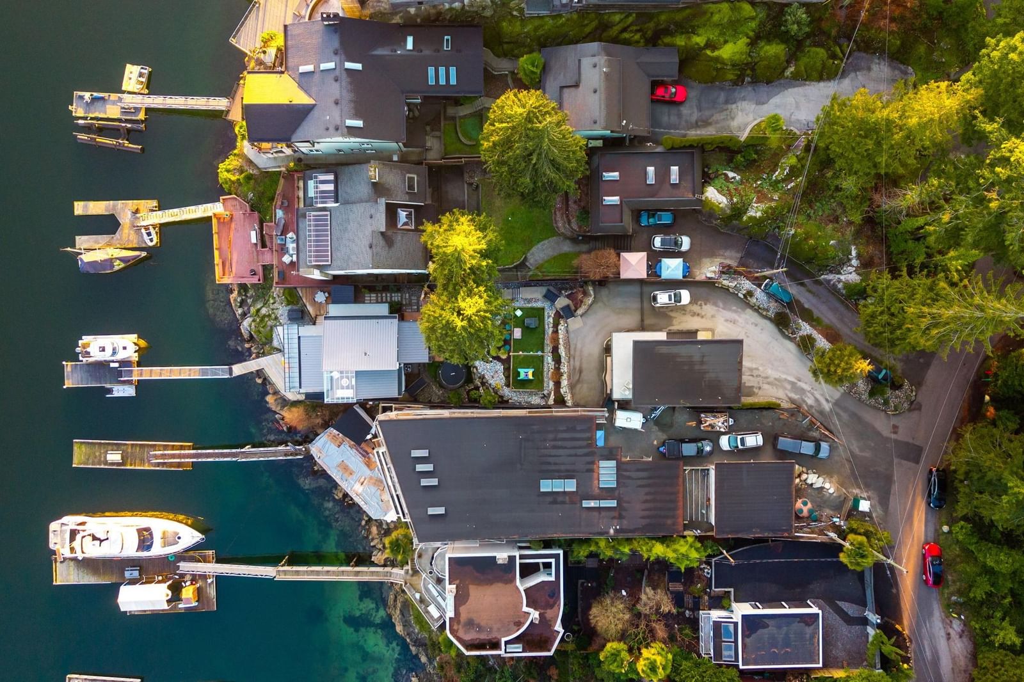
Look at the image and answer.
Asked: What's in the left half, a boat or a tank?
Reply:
boat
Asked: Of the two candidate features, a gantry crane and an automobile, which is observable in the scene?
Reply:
automobile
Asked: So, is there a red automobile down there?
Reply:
Yes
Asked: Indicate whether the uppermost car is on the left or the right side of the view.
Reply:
right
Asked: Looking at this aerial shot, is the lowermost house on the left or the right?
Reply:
right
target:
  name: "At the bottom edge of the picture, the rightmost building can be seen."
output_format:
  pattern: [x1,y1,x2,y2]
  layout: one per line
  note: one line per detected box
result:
[695,599,821,667]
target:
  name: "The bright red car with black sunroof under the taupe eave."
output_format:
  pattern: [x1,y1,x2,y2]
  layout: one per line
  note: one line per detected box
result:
[652,81,689,102]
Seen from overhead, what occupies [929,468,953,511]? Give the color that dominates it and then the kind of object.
black car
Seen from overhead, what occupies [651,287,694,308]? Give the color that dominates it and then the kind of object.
white car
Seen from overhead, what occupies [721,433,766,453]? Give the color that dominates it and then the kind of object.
white car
